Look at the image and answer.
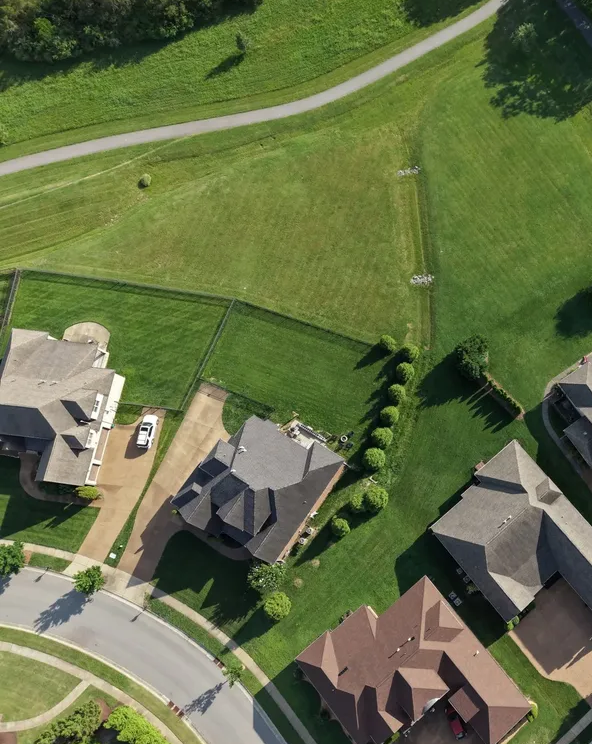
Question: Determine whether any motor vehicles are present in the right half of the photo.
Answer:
Yes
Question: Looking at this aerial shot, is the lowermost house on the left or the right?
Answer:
right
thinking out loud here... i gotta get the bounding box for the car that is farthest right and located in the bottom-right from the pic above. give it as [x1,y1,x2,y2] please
[442,703,468,742]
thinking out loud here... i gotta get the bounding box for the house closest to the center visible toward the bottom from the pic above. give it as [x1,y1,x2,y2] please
[170,415,346,563]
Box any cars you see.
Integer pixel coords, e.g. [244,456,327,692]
[136,415,159,451]
[442,703,468,742]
